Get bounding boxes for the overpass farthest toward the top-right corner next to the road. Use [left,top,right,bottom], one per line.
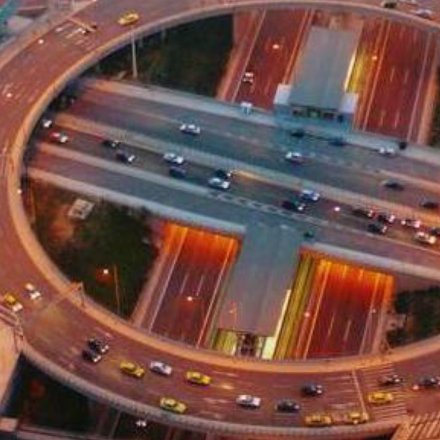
[26,71,440,282]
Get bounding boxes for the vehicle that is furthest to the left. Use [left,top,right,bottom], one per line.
[1,294,22,312]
